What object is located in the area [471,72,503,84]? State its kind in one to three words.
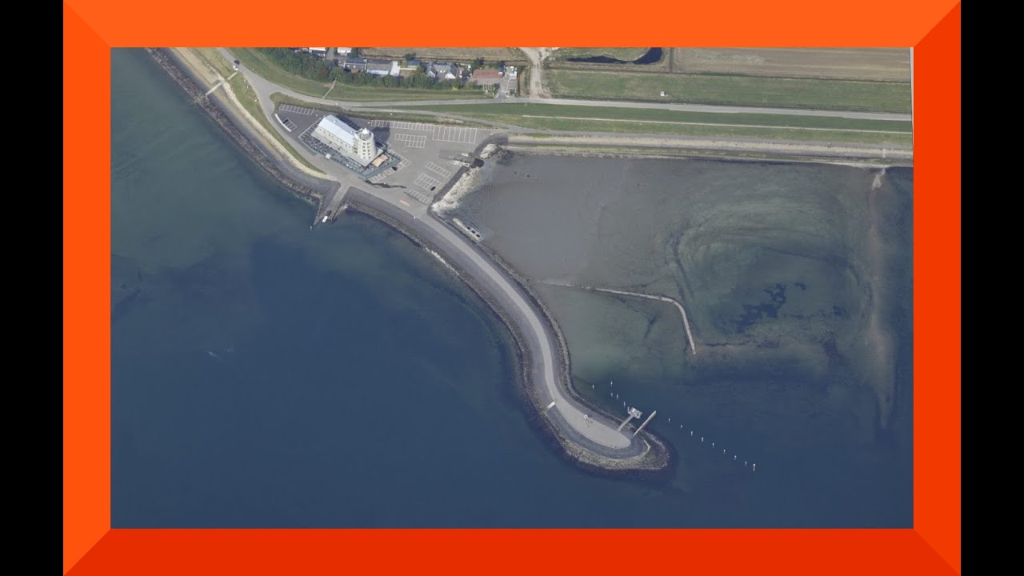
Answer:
house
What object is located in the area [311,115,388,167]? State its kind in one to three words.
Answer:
building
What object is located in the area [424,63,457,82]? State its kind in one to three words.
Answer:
house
